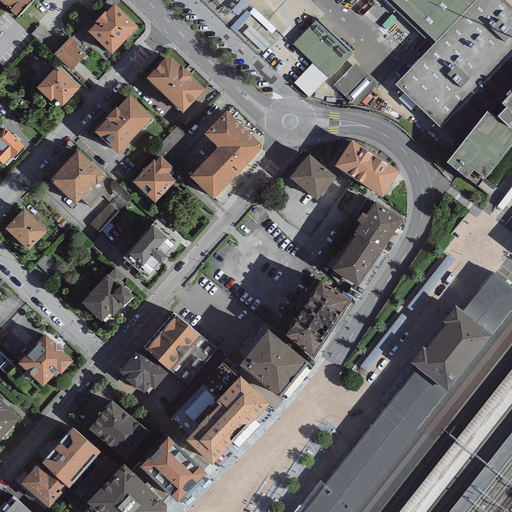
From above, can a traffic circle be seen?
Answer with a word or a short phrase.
Yes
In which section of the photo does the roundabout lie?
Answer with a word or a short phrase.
top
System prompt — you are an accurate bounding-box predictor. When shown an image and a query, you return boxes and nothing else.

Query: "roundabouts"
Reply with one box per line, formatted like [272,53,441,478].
[265,96,316,146]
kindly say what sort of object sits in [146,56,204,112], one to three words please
house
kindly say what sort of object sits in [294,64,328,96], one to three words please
shed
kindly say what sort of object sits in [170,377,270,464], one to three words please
house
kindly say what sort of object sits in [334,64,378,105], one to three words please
building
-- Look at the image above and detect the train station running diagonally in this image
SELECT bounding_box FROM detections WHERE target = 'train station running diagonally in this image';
[305,274,512,512]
